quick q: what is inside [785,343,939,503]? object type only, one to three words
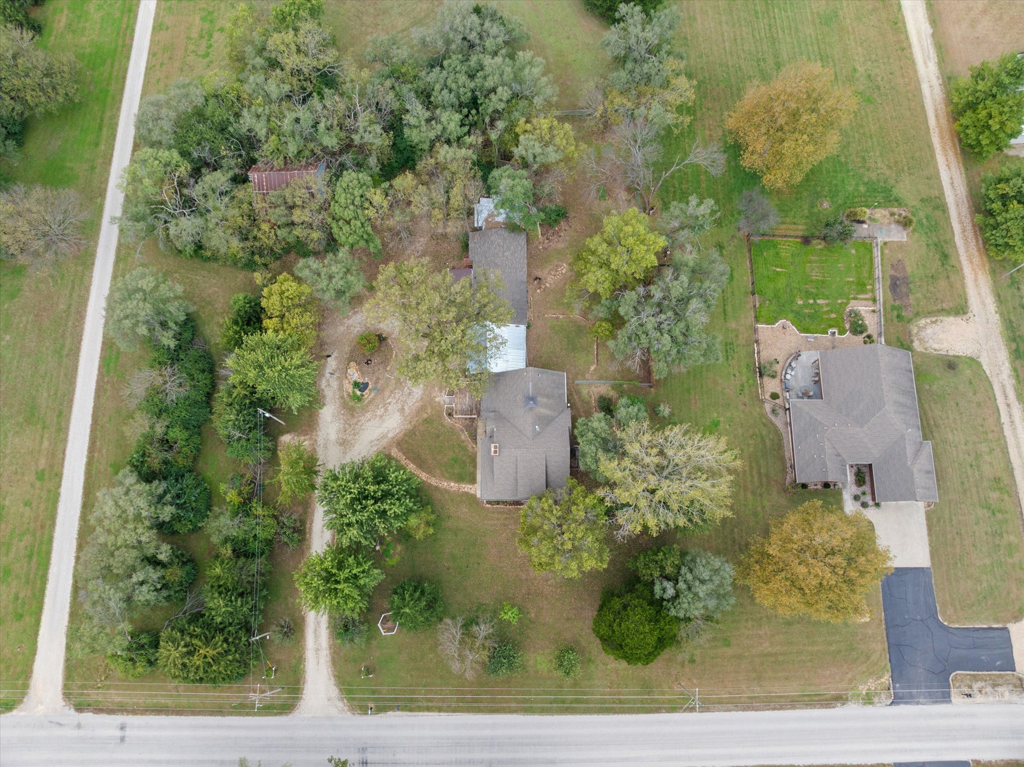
house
